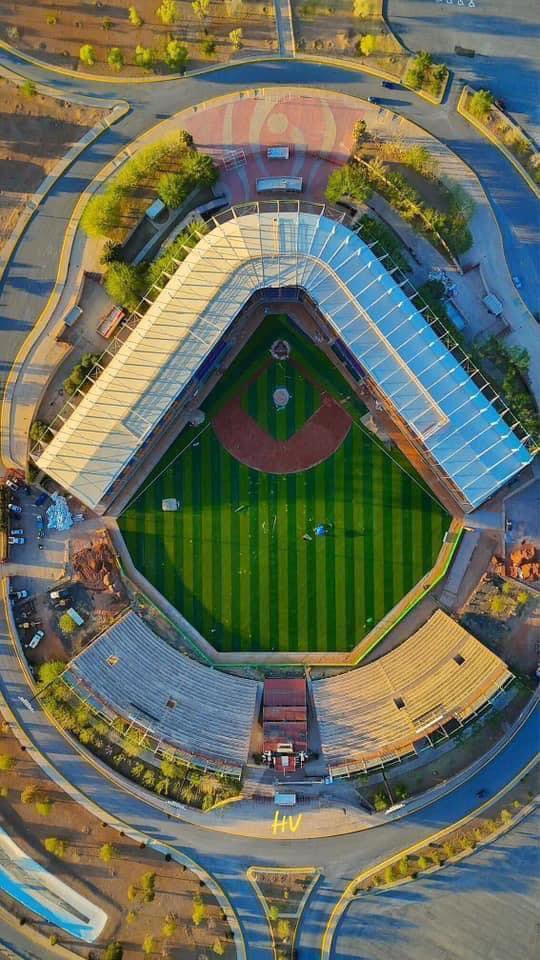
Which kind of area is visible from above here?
sports ground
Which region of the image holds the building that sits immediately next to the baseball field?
bottom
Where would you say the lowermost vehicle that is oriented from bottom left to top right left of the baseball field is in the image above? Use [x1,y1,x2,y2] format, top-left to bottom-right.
[30,630,43,647]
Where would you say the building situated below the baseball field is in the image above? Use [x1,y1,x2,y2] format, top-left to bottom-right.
[262,672,308,778]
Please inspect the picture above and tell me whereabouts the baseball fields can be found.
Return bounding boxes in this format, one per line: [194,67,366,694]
[103,304,468,665]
